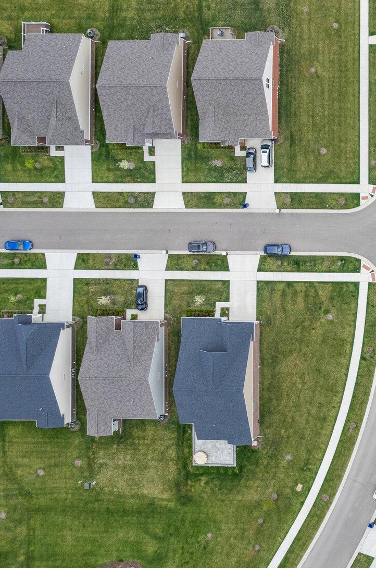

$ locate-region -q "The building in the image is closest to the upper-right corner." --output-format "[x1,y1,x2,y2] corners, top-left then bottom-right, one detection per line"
[192,30,284,147]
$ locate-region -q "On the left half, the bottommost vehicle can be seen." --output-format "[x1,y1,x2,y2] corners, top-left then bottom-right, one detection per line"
[135,285,149,311]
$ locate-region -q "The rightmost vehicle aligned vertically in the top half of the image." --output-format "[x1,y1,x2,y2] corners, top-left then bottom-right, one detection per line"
[259,140,273,168]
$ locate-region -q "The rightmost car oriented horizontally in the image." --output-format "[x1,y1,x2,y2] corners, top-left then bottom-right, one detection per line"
[264,244,292,256]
